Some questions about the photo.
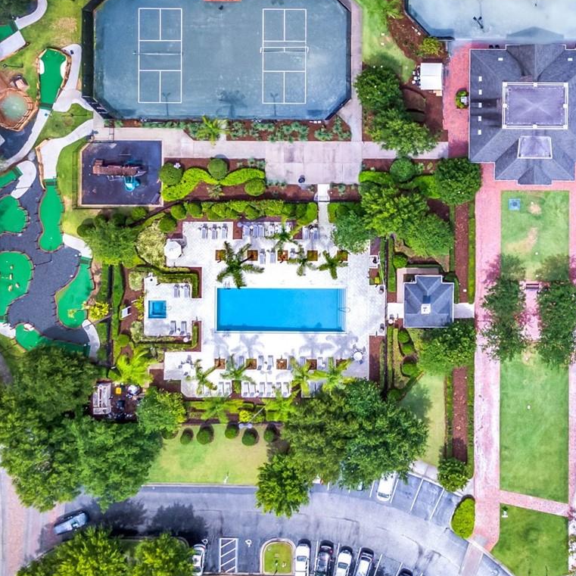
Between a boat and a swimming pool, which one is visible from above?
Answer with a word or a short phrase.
swimming pool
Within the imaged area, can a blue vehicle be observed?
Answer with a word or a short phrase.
Yes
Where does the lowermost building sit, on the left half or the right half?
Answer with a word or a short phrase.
right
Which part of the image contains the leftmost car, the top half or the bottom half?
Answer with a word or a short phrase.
bottom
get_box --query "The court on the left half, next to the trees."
[93,0,348,118]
